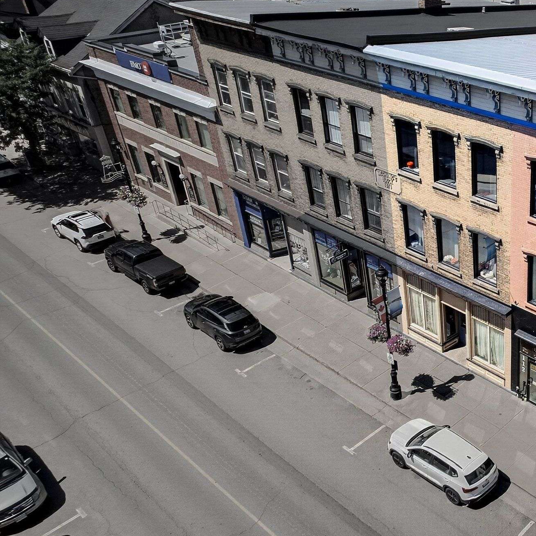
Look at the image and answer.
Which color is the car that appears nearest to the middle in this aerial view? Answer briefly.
black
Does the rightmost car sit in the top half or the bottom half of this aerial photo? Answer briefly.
bottom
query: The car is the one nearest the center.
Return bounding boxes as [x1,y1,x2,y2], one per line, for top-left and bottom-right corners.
[182,296,263,352]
